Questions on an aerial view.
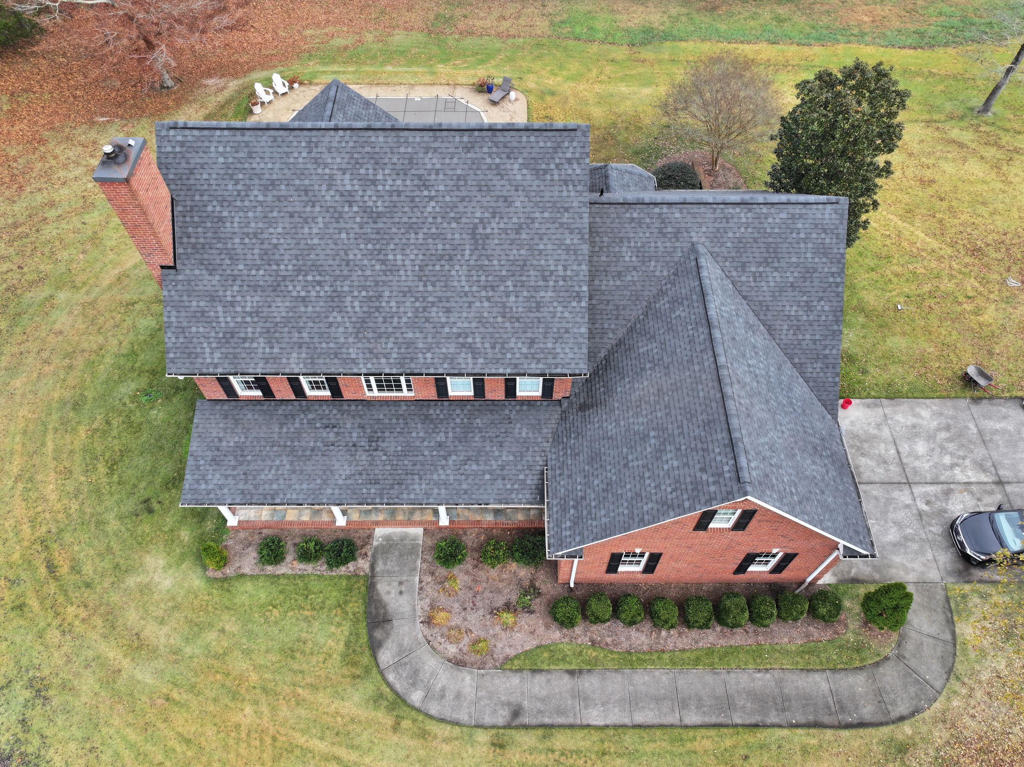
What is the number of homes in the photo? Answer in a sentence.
The photo contains exactly 1 home.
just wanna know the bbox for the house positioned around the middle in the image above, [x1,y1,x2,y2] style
[93,79,884,596]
